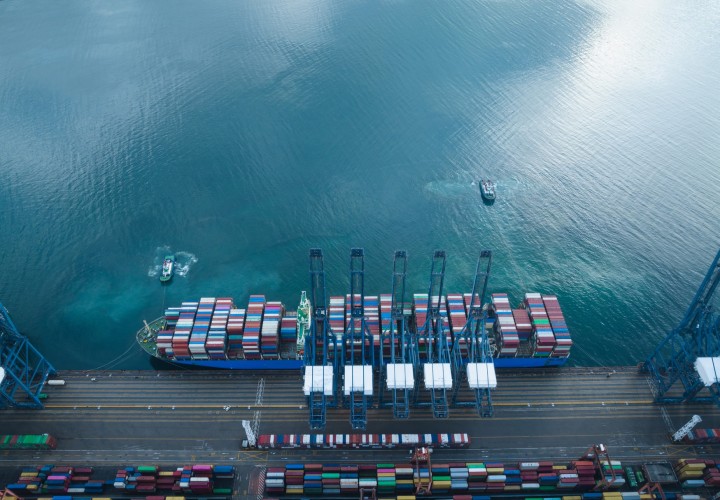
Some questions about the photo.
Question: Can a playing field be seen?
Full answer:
No, the frame has no playing field in it.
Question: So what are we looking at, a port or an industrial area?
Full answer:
This looks like a port.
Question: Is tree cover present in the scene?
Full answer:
No, no tree cover is visible.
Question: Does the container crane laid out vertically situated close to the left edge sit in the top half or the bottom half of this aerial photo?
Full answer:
You can find the container crane laid out vertically situated close to the left edge in the bottom half.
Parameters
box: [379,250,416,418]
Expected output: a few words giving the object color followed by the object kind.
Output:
blue container crane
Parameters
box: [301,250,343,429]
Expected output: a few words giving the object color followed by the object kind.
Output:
blue container crane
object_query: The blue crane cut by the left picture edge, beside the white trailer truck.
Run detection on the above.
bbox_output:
[0,282,61,407]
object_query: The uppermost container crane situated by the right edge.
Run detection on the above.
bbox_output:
[643,252,720,409]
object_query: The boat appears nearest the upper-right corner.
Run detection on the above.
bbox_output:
[480,183,496,203]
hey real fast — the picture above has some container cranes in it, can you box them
[643,252,720,409]
[453,248,500,418]
[340,250,378,429]
[0,282,61,407]
[301,250,343,429]
[379,250,416,418]
[631,481,669,500]
[413,249,455,418]
[581,444,622,493]
[410,448,432,500]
